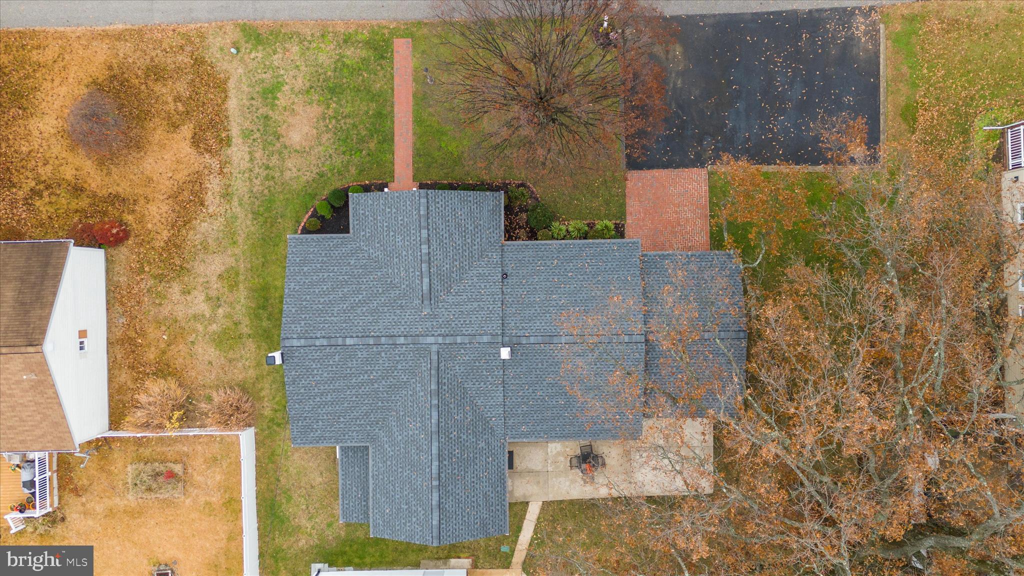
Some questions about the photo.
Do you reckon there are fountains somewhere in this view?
No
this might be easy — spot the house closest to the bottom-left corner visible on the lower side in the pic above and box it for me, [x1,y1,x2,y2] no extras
[0,238,109,456]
